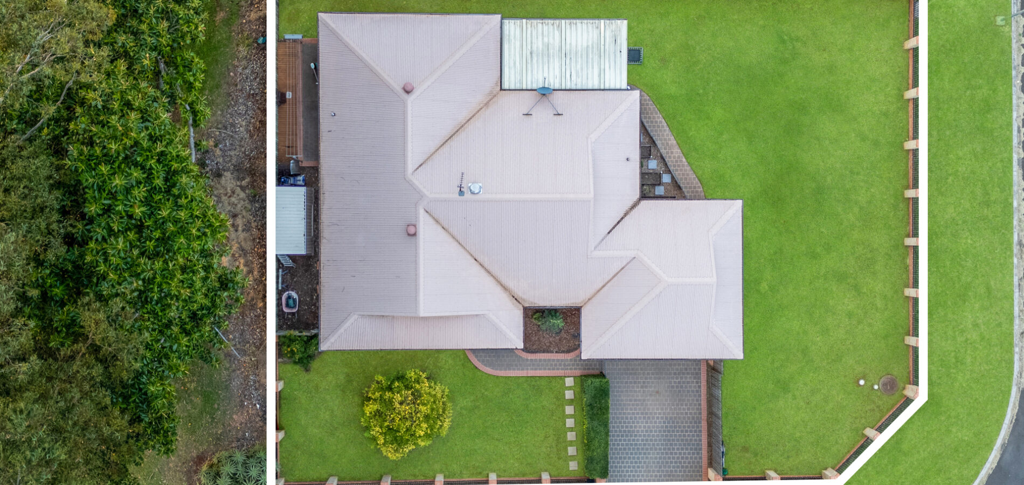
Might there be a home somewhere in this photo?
Yes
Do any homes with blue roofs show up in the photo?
No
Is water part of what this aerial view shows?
No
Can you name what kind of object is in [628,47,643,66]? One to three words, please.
trampoline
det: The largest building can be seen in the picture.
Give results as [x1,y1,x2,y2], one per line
[317,12,744,360]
